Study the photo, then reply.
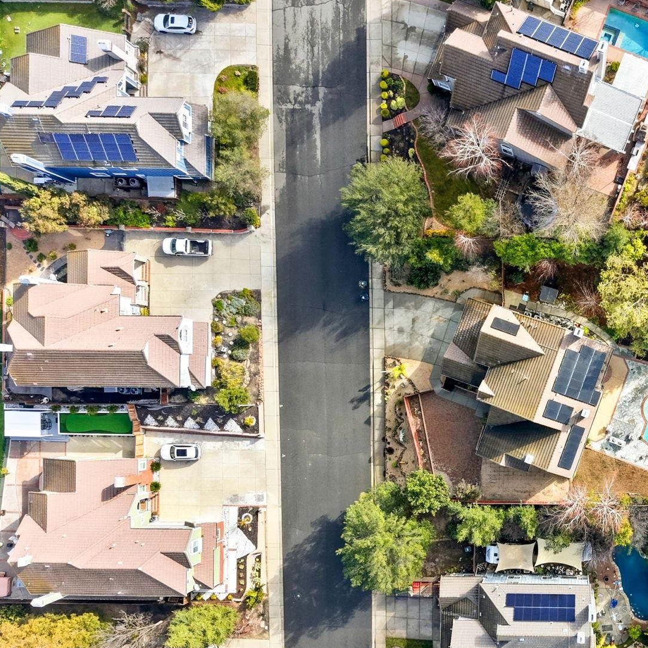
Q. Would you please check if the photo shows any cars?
Yes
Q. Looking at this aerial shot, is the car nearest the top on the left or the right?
left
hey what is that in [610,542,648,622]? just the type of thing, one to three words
swimming pool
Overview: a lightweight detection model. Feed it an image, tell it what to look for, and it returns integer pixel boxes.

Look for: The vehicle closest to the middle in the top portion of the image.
[161,236,213,257]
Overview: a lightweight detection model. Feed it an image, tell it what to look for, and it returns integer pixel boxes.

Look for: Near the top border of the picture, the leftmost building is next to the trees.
[0,24,212,183]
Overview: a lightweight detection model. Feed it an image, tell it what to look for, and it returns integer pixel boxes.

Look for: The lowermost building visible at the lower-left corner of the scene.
[8,459,222,610]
